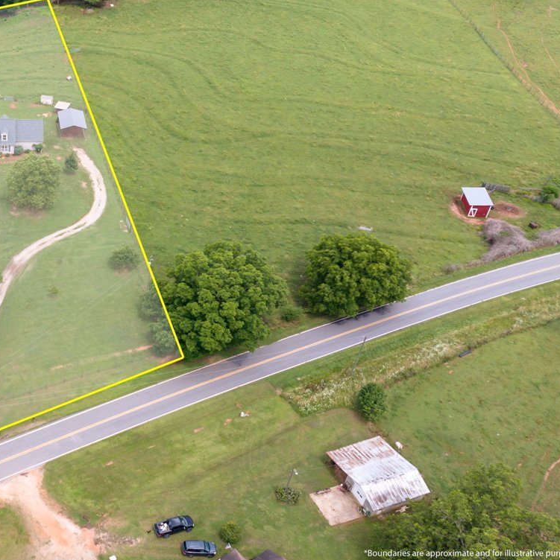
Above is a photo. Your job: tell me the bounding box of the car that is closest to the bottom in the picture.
[182,541,217,559]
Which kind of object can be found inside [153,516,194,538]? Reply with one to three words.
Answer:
truck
